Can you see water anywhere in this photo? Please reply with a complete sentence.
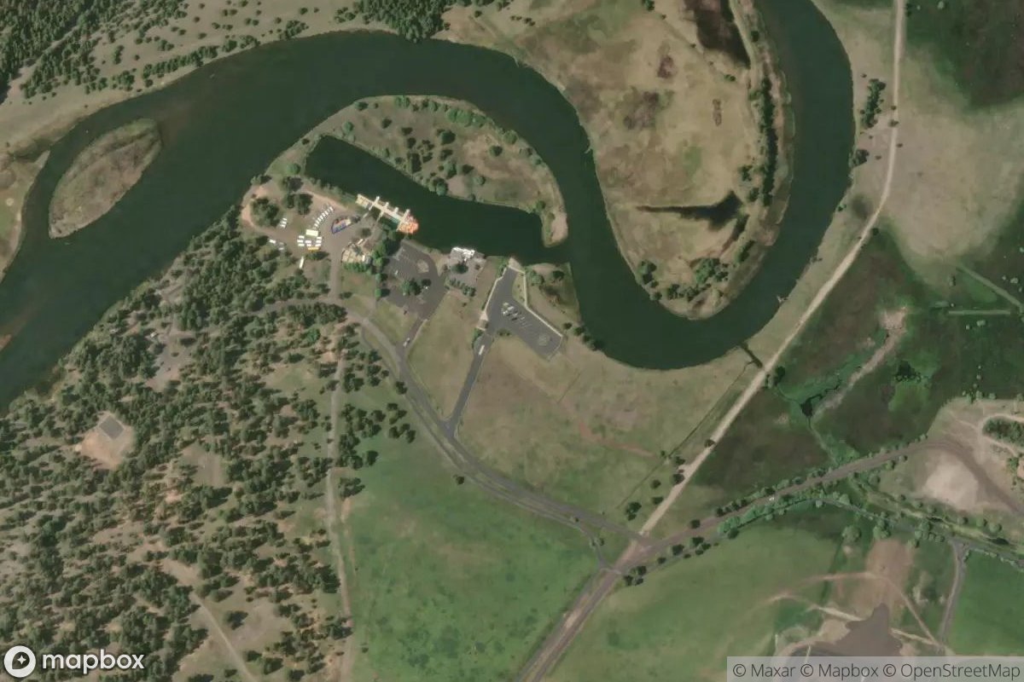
Yes, some water is visible.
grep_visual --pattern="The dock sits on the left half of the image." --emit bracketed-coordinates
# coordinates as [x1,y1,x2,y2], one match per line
[355,195,409,231]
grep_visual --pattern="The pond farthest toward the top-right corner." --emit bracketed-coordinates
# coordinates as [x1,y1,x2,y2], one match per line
[693,0,750,68]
